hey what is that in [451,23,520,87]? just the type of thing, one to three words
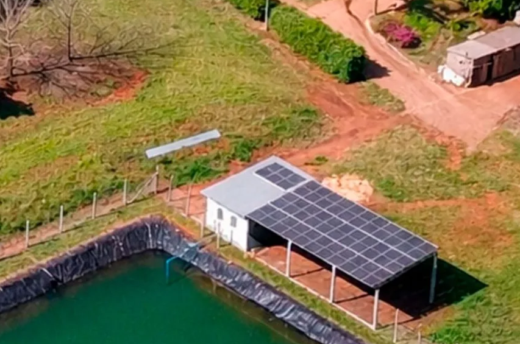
shed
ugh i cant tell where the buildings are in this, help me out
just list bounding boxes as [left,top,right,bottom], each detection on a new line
[200,151,446,329]
[451,23,520,87]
